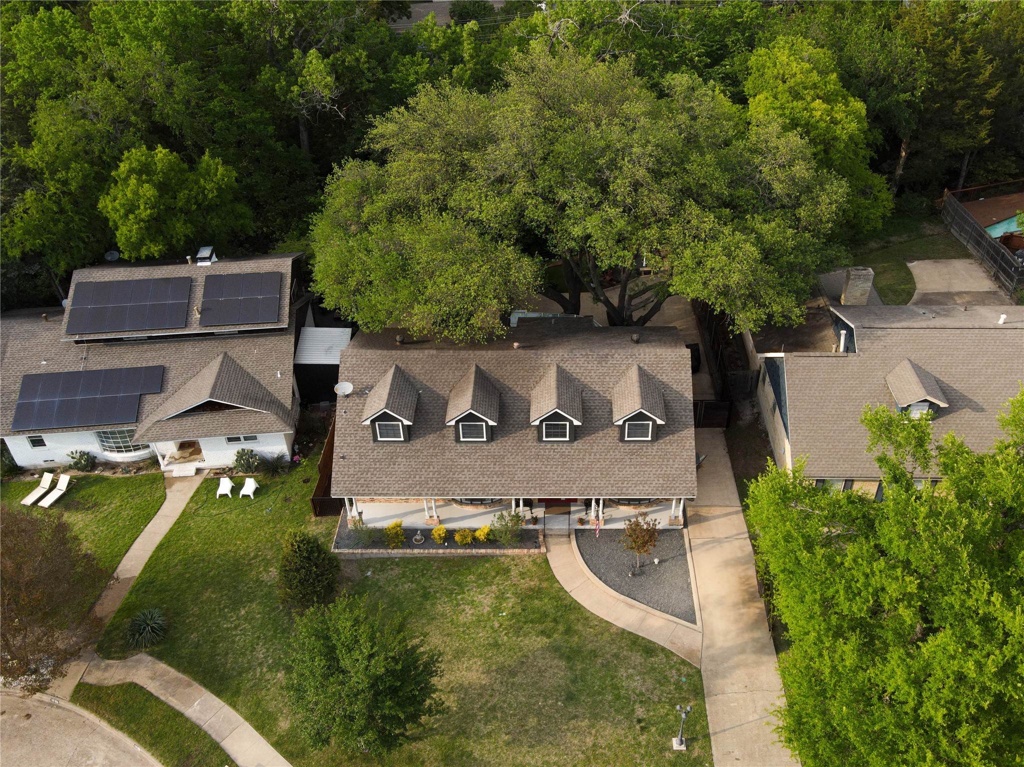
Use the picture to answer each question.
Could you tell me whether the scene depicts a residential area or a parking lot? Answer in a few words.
residential area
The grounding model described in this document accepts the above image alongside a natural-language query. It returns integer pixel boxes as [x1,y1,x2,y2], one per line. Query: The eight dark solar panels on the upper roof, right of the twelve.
[199,270,278,325]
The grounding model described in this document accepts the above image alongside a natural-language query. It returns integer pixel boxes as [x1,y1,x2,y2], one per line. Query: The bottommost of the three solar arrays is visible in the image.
[11,364,161,430]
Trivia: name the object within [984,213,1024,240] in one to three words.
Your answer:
swimming pool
